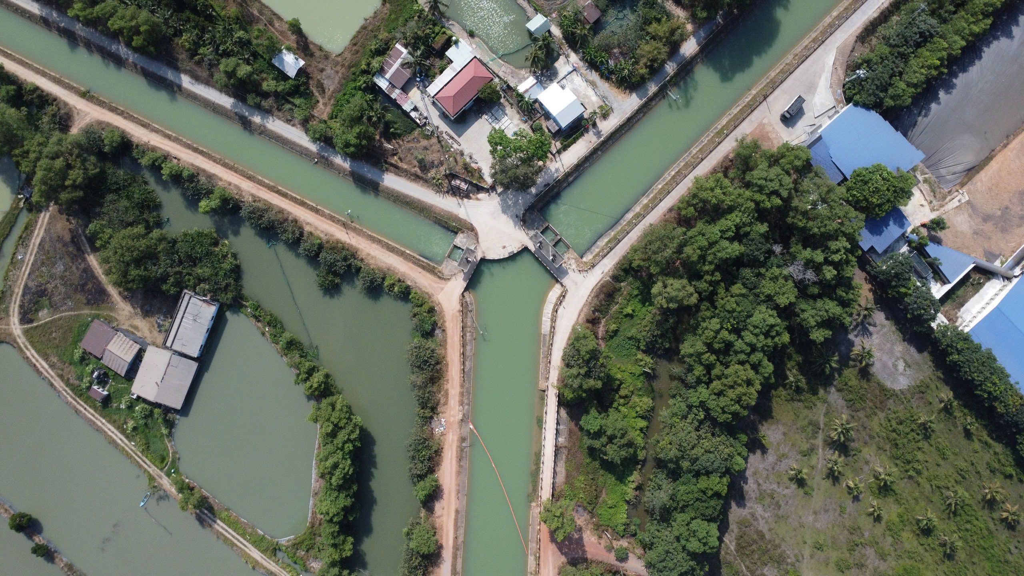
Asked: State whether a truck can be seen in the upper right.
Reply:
Yes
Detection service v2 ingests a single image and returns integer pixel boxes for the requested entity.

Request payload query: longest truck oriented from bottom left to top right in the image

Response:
[779,90,811,122]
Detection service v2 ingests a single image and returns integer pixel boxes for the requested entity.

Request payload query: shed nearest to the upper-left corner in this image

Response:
[272,49,307,81]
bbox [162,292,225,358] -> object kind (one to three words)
building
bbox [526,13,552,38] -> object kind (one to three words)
shed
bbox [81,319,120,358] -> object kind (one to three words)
shed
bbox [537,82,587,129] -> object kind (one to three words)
house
